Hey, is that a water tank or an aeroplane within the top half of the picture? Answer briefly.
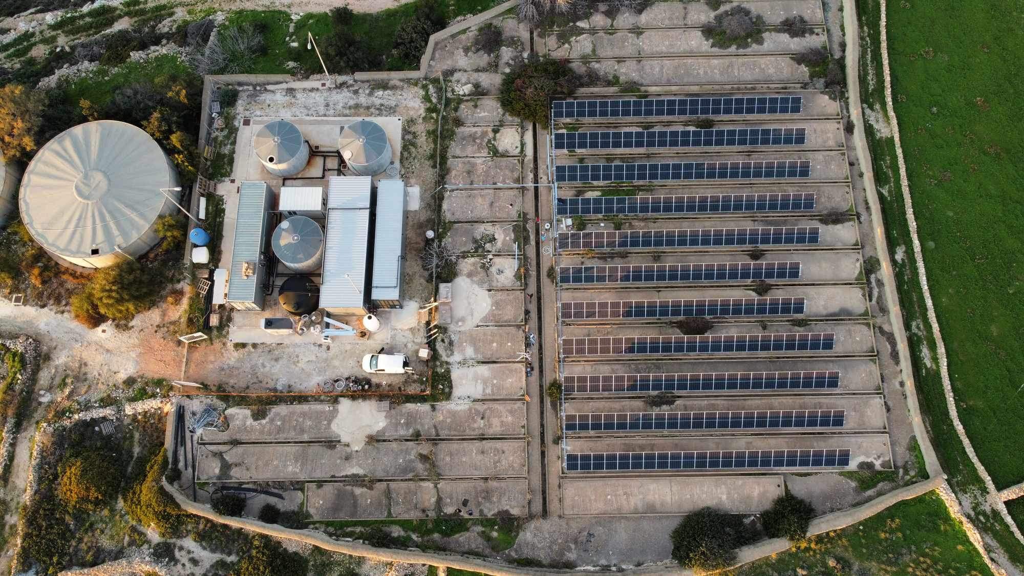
water tank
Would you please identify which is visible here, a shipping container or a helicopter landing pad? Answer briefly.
shipping container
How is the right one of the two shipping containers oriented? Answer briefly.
from top to bottom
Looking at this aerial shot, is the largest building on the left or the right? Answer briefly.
left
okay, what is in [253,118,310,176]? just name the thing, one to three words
water tank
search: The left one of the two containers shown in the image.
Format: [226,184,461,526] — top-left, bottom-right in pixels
[227,181,274,308]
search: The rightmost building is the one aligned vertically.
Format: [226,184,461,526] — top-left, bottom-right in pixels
[319,176,377,315]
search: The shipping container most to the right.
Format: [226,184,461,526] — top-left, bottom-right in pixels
[371,180,407,306]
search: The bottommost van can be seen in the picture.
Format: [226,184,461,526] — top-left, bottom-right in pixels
[362,346,415,376]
